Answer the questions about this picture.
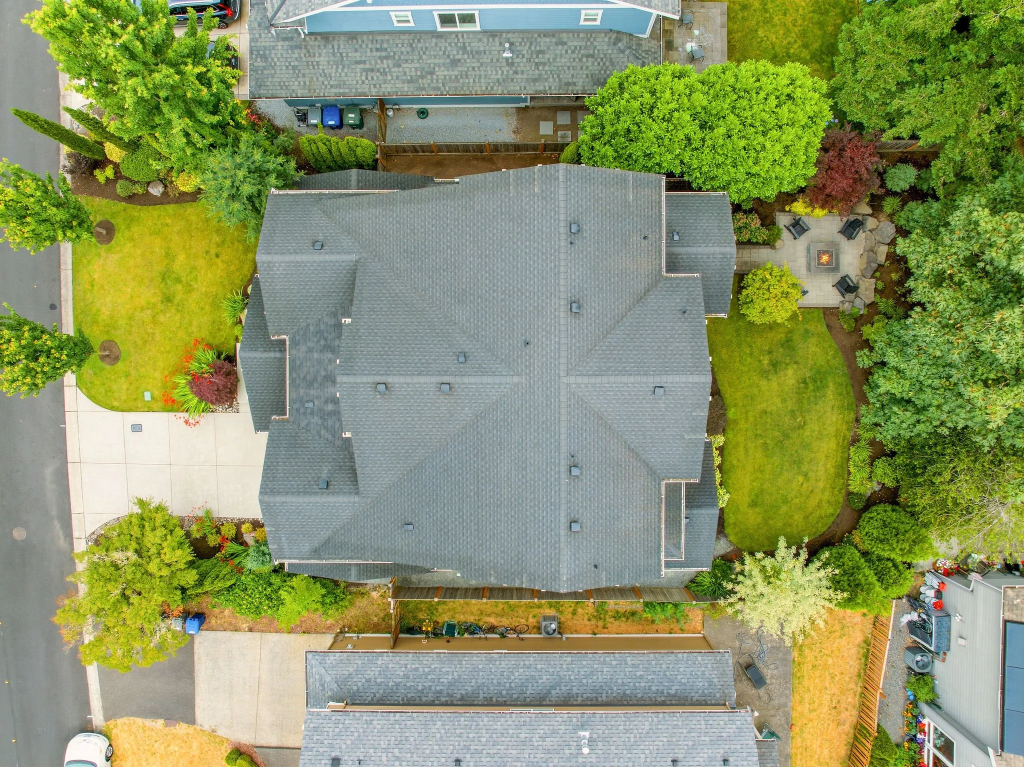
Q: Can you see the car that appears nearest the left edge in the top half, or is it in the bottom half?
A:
bottom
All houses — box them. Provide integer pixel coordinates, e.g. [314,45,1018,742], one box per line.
[234,0,682,108]
[239,163,736,593]
[925,565,1024,767]
[297,630,779,767]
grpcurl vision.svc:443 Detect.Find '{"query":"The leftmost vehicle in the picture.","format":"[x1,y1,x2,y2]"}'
[61,731,117,767]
